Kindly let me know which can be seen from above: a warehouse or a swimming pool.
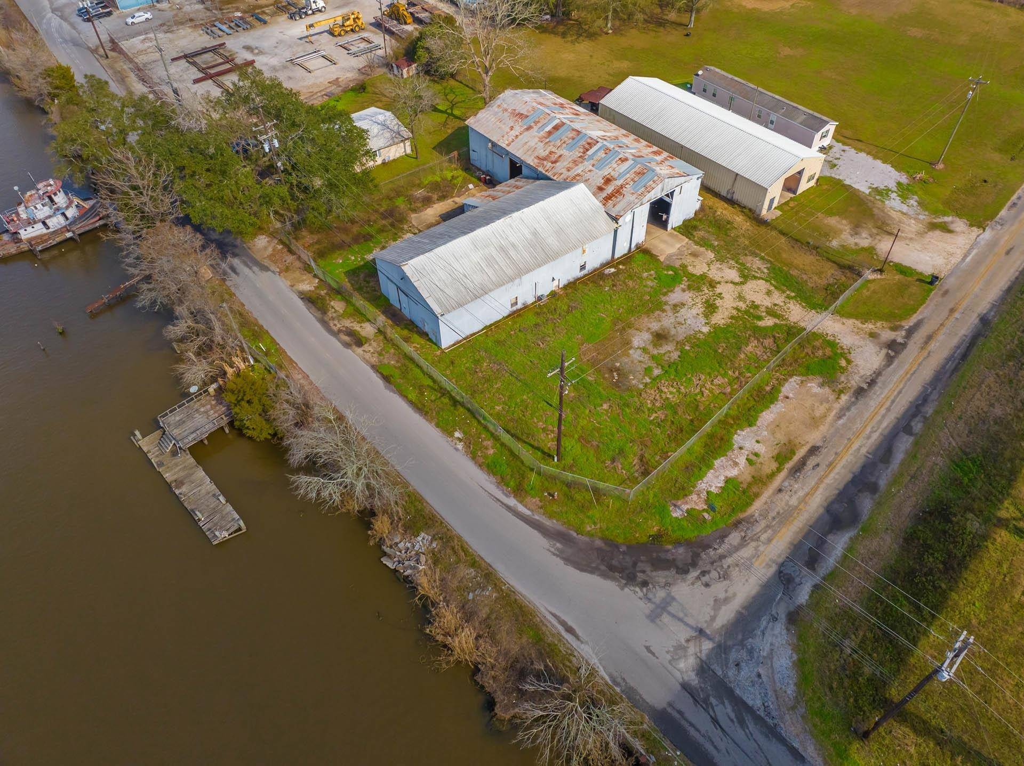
warehouse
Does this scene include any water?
Yes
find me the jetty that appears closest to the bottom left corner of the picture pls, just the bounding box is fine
[131,424,249,547]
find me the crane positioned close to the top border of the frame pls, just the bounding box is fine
[296,7,368,43]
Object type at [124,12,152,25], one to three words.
vehicle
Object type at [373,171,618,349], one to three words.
warehouse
